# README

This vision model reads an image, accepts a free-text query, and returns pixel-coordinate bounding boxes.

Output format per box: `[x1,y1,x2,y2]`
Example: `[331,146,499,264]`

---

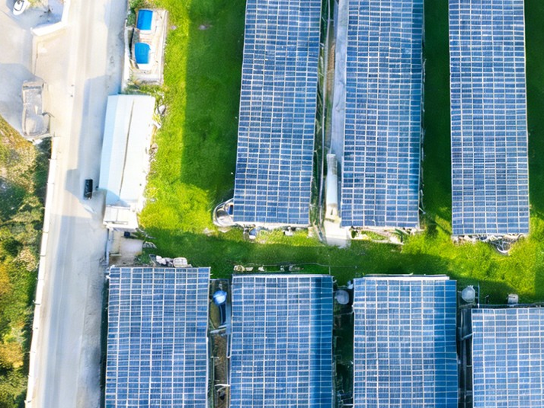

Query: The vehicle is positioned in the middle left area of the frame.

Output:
[81,178,94,198]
